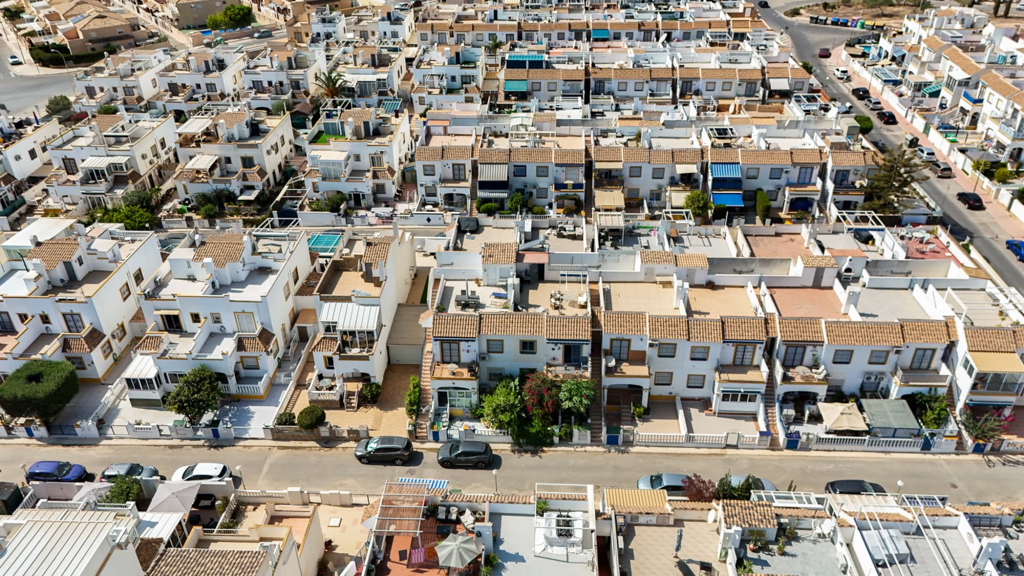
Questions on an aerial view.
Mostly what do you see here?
buildings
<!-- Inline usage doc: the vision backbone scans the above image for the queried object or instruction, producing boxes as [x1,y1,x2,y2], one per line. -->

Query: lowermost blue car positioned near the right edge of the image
[1002,240,1024,264]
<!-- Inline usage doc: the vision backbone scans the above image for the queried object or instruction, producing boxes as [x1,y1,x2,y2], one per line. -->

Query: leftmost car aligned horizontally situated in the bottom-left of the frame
[26,460,90,481]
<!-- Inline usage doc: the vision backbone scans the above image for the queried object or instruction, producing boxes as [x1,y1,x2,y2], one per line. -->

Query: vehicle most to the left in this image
[7,54,22,66]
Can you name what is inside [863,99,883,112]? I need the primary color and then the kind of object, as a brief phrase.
gray vehicle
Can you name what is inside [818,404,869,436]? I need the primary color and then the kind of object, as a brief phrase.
white umbrella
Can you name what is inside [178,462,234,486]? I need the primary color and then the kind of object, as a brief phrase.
white car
